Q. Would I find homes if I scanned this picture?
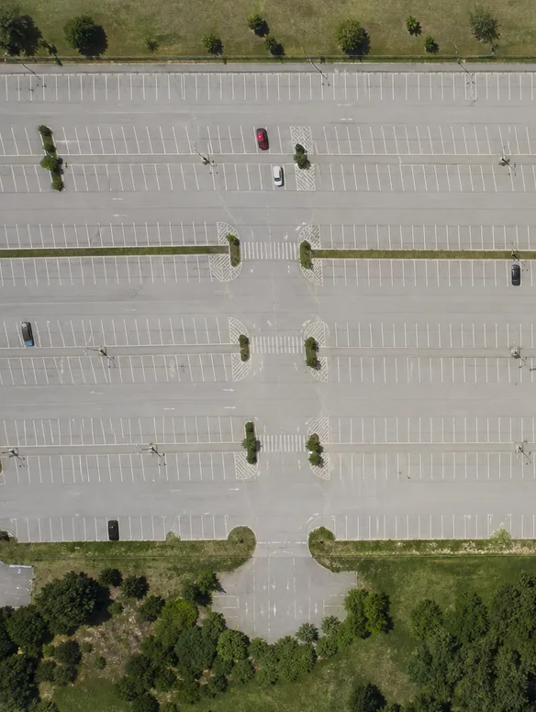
No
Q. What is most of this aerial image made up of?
paved ground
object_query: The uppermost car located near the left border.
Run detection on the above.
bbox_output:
[18,322,33,346]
